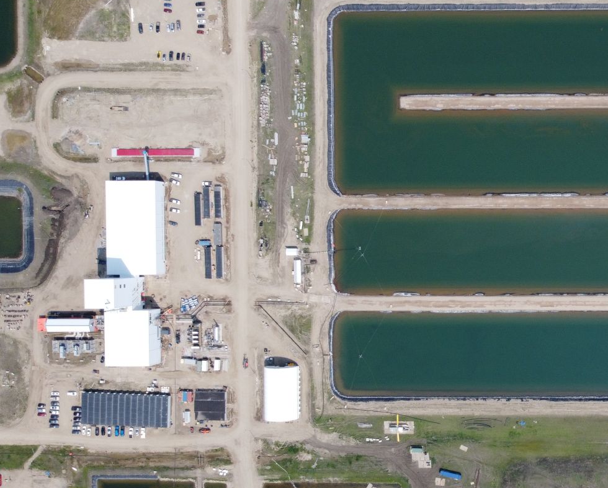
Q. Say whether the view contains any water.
Yes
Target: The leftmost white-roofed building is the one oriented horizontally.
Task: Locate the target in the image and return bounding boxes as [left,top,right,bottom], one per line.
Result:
[44,318,99,332]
